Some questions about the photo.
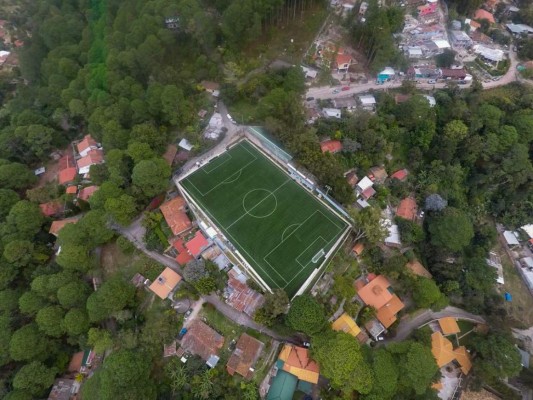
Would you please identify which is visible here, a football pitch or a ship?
football pitch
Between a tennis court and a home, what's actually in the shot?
home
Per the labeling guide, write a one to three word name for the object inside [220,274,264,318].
house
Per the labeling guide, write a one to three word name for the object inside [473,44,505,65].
building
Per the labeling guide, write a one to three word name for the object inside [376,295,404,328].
house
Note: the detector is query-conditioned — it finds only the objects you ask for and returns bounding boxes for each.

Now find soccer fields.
[176,139,352,305]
